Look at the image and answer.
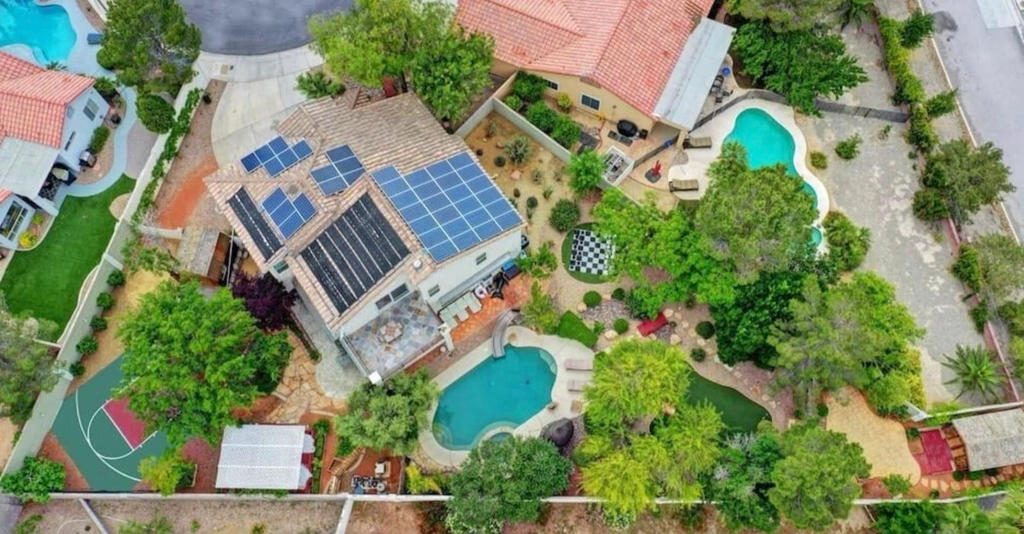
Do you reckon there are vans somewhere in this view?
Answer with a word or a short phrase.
No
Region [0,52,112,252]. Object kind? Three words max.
house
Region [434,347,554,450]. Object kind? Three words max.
swimming pool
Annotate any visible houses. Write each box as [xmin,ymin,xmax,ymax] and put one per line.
[0,52,112,252]
[453,0,735,144]
[210,82,529,393]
